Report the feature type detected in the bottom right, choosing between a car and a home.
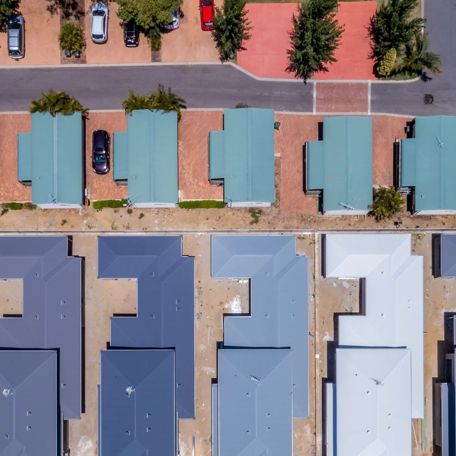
home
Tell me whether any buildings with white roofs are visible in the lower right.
Yes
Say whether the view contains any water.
No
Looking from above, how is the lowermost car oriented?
vertically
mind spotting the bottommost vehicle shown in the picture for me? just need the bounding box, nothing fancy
[90,129,111,175]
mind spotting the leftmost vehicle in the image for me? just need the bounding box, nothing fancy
[7,13,26,63]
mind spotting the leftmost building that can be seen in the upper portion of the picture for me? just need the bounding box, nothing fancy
[17,111,83,208]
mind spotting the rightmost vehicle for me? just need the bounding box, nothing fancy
[198,0,217,33]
